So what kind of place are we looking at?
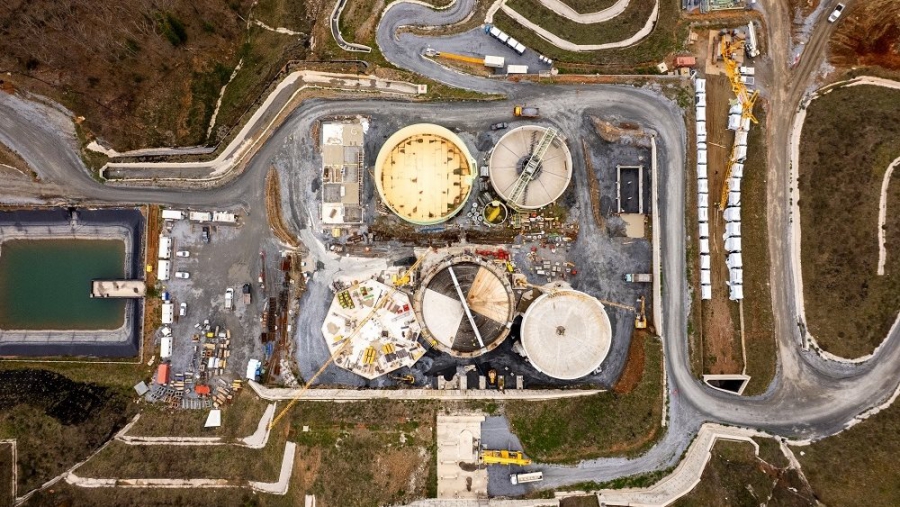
industrial area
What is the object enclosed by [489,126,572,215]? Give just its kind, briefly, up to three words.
storage tank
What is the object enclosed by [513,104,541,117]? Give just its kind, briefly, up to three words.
vehicle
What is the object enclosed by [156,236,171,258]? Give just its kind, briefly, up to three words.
building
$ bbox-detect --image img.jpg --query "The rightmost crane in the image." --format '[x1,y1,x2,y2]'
[708,28,759,212]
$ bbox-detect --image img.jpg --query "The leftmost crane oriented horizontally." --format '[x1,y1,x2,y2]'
[423,43,486,62]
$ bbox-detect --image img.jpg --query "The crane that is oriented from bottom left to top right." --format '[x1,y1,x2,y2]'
[271,245,434,426]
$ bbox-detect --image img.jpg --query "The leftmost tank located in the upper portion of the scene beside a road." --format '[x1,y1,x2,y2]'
[374,123,482,226]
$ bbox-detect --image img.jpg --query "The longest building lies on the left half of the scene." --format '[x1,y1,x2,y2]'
[320,121,365,223]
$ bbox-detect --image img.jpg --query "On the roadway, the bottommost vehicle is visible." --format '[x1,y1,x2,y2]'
[512,474,543,487]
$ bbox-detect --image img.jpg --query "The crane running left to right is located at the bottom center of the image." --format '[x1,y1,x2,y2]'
[482,447,533,467]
